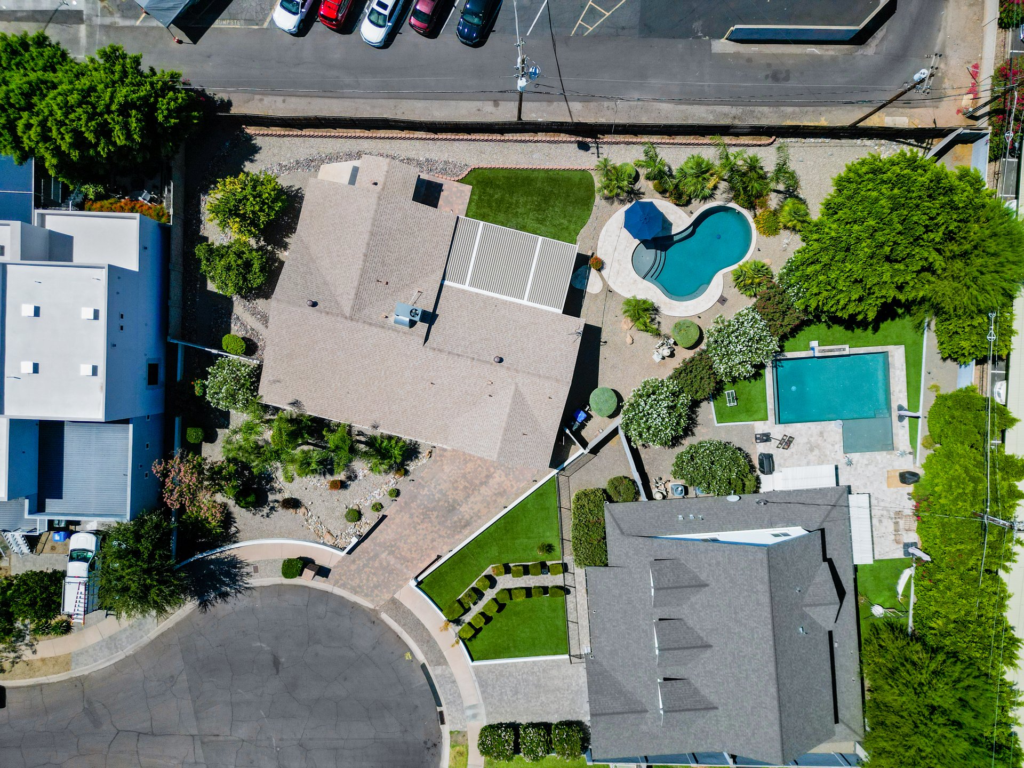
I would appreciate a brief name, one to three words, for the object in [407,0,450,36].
car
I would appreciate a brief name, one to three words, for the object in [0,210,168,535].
house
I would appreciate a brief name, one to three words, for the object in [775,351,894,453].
swimming pool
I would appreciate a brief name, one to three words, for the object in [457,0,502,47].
car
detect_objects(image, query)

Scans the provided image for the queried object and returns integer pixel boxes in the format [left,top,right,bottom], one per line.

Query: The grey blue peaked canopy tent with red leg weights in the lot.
[136,0,194,41]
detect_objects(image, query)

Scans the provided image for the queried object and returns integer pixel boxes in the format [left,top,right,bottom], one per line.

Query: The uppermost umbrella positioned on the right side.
[624,200,664,241]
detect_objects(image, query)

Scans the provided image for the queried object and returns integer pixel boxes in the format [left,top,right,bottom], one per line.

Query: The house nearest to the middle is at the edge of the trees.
[258,155,585,469]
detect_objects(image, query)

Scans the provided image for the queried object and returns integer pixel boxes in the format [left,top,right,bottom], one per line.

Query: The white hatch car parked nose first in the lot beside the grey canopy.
[273,0,316,33]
